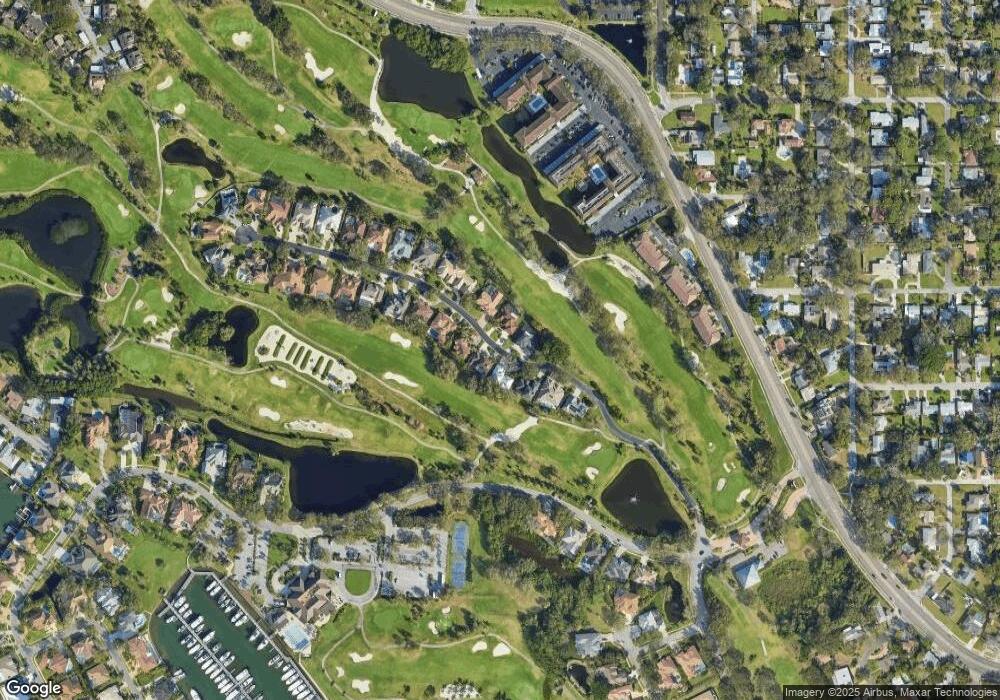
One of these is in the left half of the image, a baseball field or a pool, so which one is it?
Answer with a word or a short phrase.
pool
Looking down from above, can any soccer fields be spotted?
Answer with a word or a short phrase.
No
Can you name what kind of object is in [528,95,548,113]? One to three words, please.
swimming pool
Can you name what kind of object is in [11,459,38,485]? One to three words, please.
house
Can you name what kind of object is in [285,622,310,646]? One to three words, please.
swimming pool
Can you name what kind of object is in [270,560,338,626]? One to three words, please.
building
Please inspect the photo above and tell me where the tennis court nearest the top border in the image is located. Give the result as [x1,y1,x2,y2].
[453,521,470,556]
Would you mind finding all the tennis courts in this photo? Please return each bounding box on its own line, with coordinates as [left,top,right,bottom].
[452,561,467,589]
[453,521,470,556]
